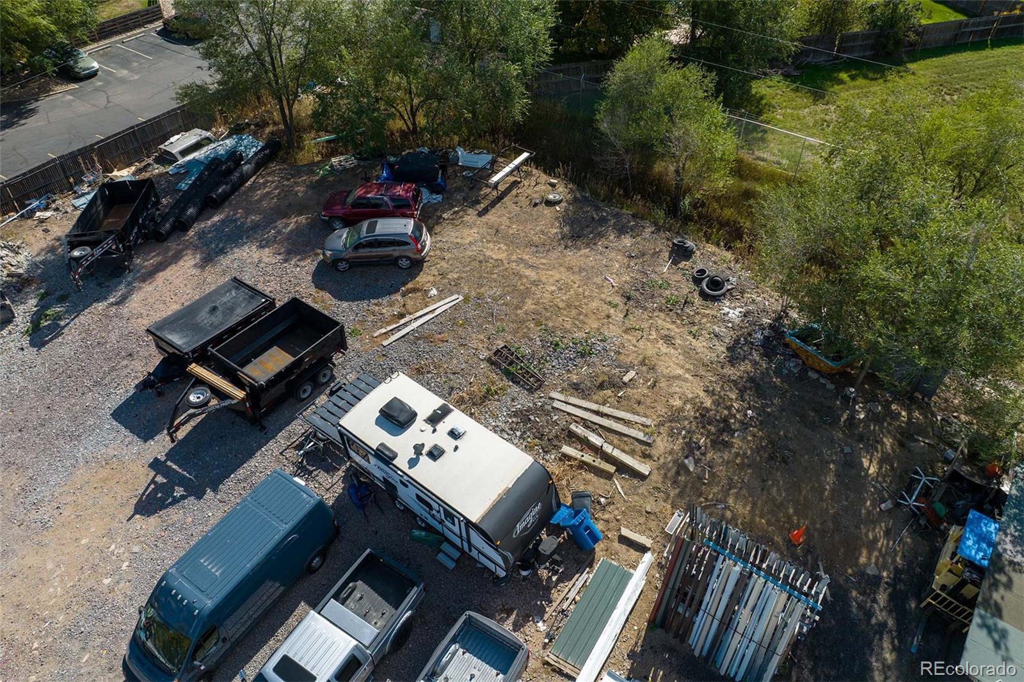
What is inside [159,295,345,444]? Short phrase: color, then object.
black trailer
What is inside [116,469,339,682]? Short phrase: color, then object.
blue van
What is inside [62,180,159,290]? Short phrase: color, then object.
black trailer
